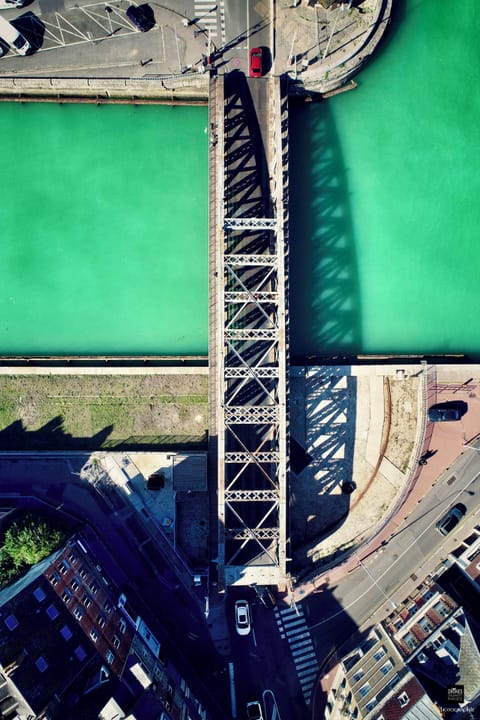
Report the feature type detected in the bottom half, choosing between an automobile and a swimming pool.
automobile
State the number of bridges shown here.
1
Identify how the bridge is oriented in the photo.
from top to bottom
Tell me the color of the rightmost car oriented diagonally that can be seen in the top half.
black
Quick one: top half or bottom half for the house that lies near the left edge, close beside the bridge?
bottom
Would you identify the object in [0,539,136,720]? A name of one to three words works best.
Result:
house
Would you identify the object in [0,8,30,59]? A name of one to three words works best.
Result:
van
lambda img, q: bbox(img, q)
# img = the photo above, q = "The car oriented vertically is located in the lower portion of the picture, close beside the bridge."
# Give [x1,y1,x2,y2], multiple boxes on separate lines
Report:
[234,601,251,638]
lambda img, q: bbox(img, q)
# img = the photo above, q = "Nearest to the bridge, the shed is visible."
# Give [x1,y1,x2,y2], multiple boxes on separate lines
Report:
[172,458,207,494]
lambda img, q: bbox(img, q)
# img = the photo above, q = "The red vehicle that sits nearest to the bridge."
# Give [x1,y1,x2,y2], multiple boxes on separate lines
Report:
[249,44,266,77]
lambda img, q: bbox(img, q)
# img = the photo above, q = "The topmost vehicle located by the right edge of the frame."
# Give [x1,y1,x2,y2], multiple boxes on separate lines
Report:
[429,406,464,423]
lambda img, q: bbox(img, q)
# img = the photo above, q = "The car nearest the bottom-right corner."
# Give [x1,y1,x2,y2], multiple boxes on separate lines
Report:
[435,502,467,536]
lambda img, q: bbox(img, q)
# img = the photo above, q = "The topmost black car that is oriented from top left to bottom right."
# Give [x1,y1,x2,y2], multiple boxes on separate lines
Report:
[124,0,151,35]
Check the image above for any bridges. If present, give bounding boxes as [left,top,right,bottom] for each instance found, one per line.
[208,72,294,606]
